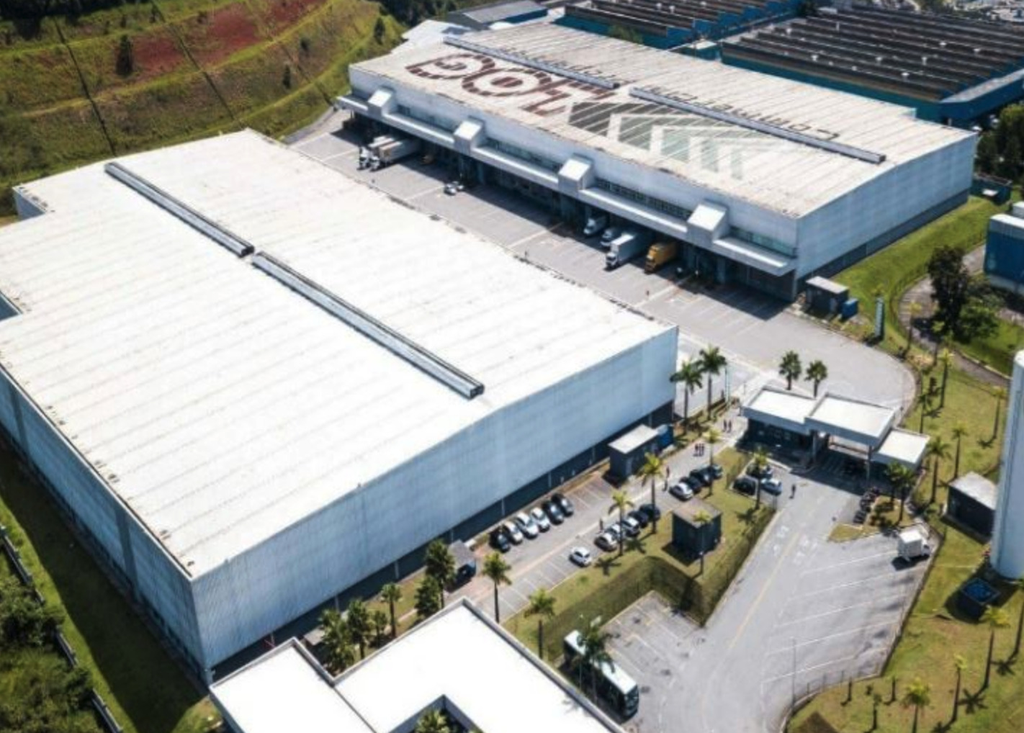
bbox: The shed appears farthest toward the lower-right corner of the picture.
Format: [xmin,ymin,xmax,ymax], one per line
[947,472,998,536]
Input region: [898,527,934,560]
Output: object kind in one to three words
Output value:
truck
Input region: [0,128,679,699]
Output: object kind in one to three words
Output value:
warehouse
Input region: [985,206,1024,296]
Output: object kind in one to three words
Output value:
building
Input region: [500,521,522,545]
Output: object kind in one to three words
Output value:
car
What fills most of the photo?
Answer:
buildings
